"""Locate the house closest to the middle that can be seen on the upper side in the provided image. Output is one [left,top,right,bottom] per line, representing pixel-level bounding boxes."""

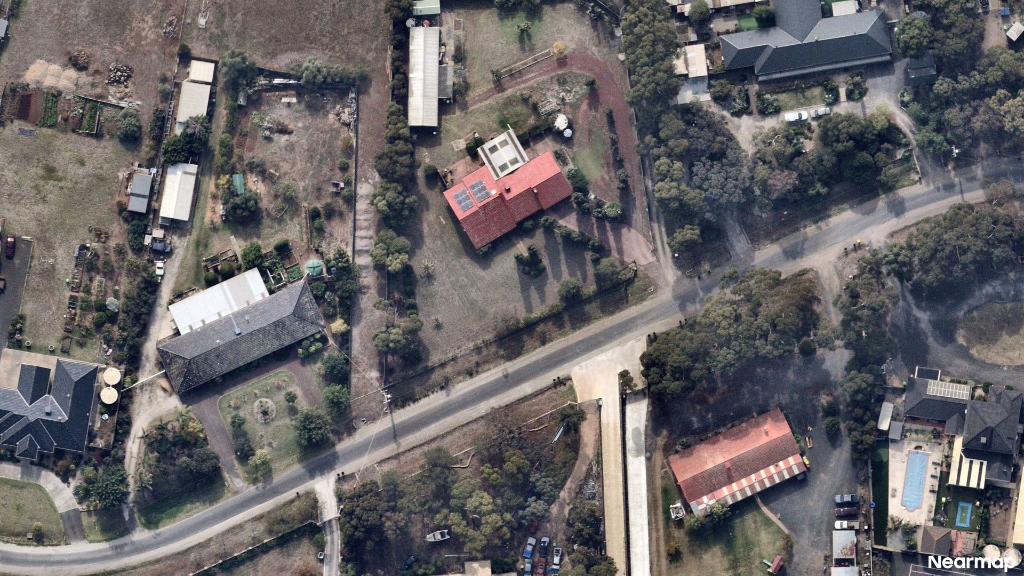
[443,148,574,249]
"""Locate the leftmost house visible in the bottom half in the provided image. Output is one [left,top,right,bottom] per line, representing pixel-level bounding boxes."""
[0,359,100,462]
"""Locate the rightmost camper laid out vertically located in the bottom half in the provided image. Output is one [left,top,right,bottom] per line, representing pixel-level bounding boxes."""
[877,398,894,430]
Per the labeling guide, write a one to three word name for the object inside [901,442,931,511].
swimming pool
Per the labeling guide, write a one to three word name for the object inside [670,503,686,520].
gazebo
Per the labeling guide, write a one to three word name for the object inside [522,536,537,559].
car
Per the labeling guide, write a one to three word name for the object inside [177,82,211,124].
shed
